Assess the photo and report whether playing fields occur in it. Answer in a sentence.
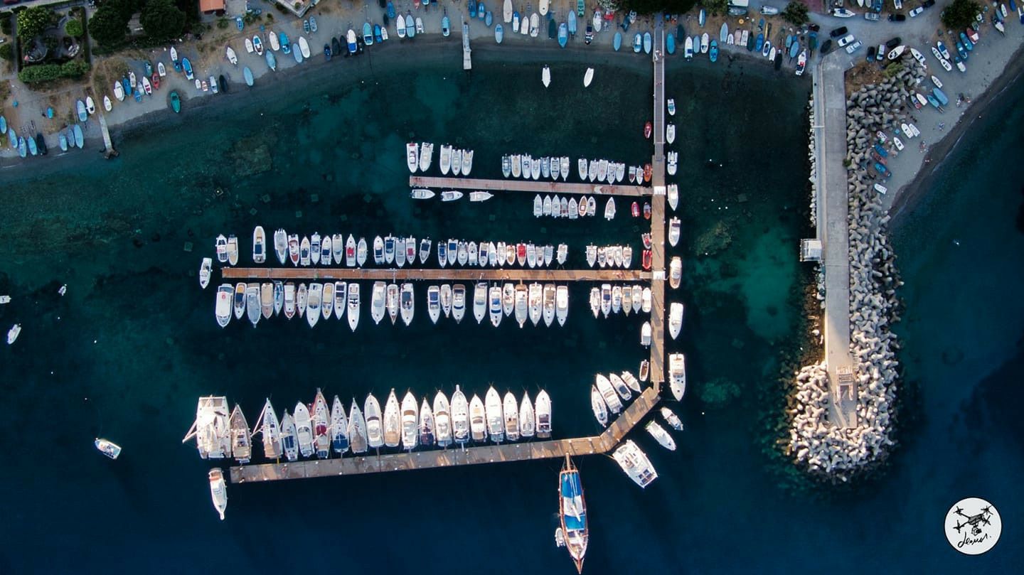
No, there is no playing field in the image.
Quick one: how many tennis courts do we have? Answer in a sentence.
No tennis courts are visible.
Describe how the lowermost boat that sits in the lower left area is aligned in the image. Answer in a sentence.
What the image shows is the lowermost boat that sits in the lower left area lying from top to bottom.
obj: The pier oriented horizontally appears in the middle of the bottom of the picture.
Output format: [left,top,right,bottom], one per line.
[230,382,660,483]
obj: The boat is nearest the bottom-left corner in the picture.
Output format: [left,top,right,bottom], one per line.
[96,440,123,457]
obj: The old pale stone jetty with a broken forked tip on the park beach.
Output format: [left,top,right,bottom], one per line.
[99,114,119,159]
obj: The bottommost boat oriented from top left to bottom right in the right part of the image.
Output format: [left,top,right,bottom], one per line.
[612,439,658,489]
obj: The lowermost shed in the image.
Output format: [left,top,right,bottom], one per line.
[797,239,824,261]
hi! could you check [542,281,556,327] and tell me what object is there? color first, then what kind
white boat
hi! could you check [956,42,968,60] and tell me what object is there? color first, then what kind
blue boat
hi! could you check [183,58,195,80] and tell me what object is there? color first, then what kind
blue boat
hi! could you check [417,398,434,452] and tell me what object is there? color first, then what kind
white boat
